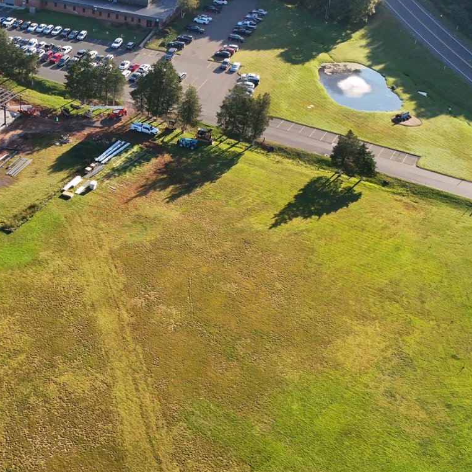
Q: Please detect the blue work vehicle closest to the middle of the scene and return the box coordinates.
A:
[169,135,201,150]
